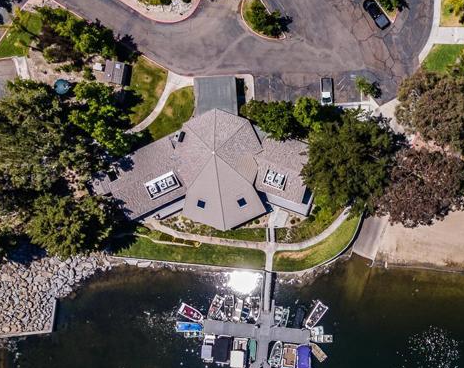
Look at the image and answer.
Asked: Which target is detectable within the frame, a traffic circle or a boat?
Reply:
boat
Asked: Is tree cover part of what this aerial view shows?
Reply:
Yes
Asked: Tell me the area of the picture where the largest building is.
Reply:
center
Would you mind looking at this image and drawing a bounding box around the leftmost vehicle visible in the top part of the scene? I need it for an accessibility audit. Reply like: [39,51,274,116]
[319,74,333,107]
